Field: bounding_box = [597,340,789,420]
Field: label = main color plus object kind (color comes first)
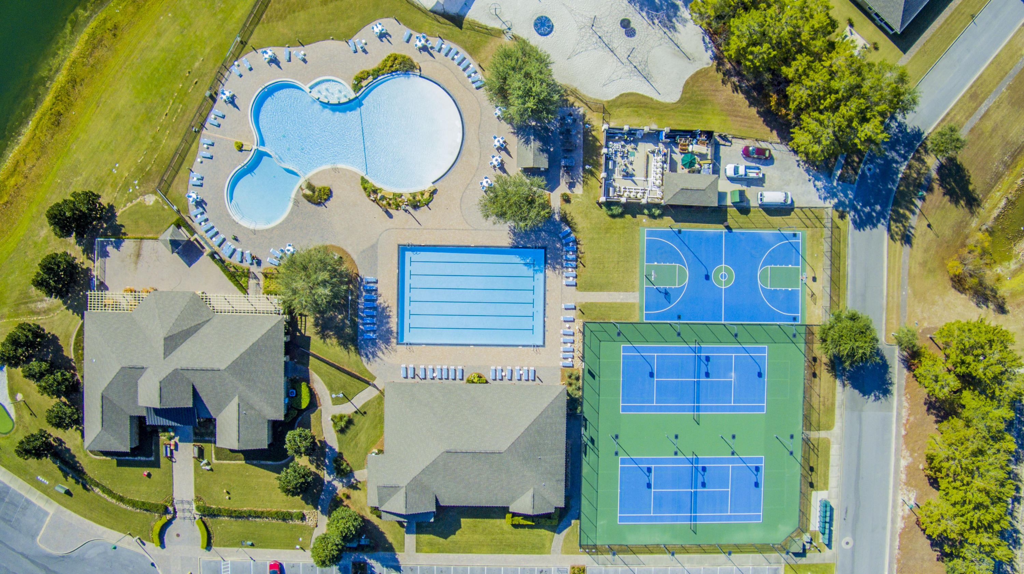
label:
blue tennis court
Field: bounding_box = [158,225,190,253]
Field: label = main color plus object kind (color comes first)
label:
gray gazebo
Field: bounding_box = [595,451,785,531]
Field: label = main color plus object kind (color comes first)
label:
blue tennis court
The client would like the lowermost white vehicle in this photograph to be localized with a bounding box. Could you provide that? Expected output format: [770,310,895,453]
[758,190,793,204]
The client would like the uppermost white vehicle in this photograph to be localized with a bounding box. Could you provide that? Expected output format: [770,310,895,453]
[725,162,765,177]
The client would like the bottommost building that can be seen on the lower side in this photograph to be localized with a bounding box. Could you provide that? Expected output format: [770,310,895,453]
[367,381,565,522]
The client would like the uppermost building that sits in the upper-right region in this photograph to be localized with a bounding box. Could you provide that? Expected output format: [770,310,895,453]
[855,0,930,38]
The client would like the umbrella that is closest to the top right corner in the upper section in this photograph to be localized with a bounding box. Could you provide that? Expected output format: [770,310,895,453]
[681,153,696,169]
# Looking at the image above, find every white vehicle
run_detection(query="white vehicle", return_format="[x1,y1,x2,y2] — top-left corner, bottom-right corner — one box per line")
[758,190,793,204]
[725,162,765,177]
